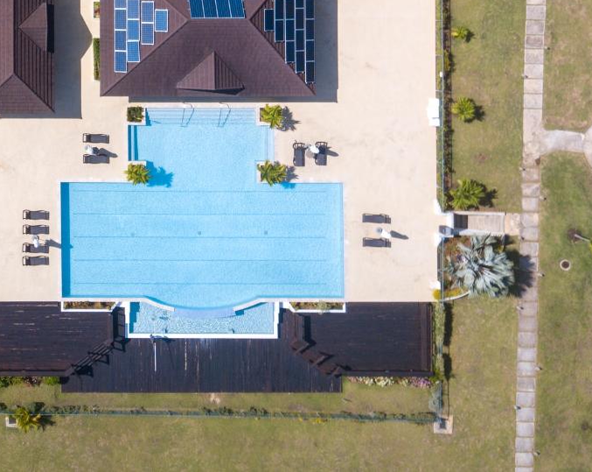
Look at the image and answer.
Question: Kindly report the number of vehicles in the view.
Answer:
0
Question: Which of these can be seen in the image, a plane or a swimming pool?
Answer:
swimming pool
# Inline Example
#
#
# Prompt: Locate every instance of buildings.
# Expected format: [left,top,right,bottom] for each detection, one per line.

[0,0,55,114]
[100,0,316,96]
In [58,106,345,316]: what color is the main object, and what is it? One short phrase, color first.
blue swimming pool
